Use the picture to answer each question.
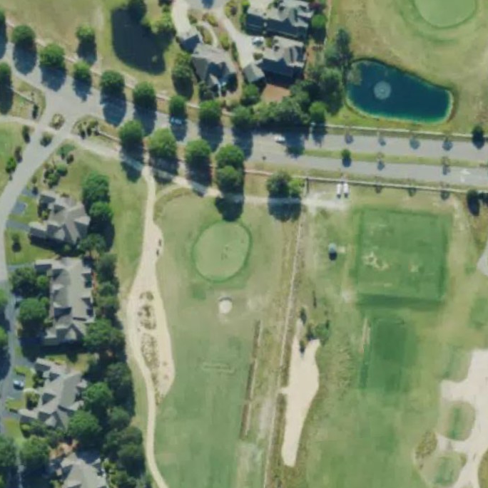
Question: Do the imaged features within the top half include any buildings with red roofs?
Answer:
No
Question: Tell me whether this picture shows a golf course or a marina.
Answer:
golf course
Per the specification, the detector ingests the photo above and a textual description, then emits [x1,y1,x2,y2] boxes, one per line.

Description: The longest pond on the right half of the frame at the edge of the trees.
[343,57,455,126]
